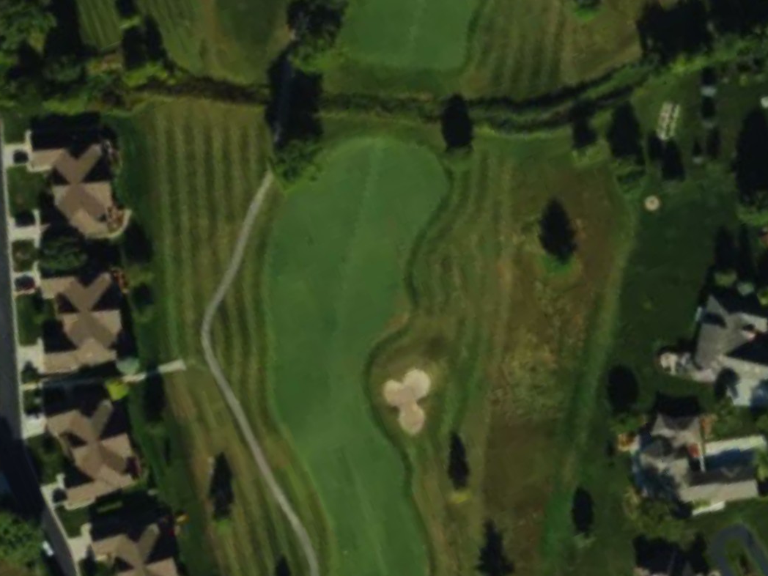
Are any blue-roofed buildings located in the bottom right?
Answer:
No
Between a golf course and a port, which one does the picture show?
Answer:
golf course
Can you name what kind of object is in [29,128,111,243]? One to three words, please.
house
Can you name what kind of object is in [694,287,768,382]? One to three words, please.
house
